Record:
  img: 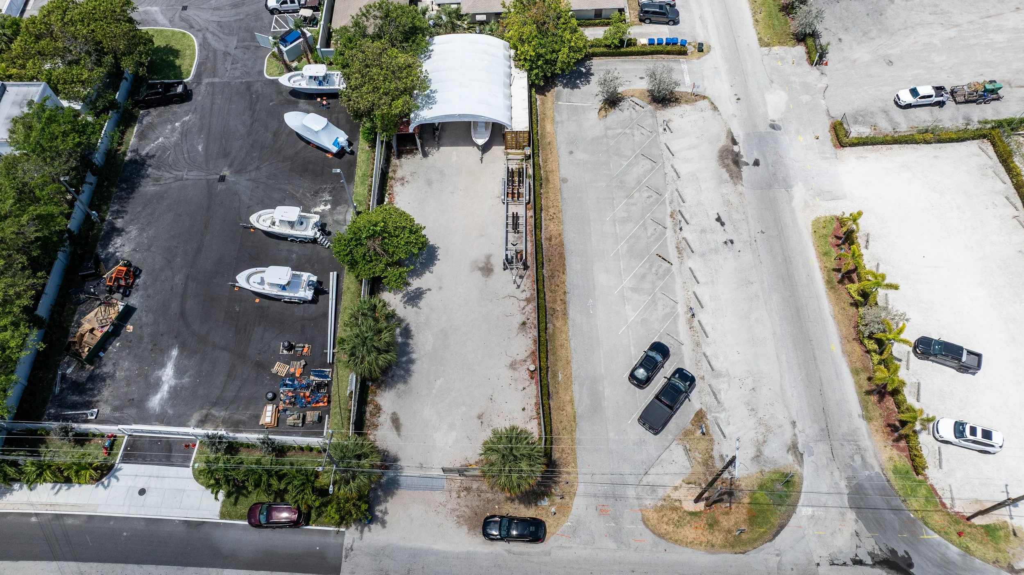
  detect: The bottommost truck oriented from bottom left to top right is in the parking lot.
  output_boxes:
[636,367,698,439]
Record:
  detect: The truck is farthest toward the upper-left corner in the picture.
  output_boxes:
[131,79,191,108]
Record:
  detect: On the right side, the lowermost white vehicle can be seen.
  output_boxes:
[930,418,1005,458]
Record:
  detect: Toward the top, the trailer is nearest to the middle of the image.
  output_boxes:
[502,157,531,281]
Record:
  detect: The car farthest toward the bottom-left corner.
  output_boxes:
[245,498,308,533]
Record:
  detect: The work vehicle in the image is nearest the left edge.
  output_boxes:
[74,260,139,297]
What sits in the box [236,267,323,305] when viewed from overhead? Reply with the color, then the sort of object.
white boat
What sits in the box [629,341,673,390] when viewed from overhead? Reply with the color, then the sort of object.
black car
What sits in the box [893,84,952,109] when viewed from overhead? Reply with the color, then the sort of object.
white truck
